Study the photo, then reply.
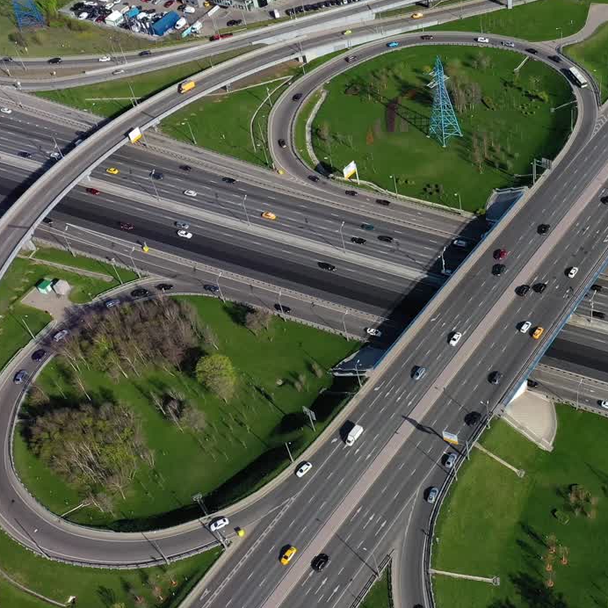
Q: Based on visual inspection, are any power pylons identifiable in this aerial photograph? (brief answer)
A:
Yes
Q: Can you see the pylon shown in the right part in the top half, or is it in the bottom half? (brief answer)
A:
top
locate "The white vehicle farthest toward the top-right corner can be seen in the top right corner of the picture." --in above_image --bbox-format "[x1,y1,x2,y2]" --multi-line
[570,64,587,87]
